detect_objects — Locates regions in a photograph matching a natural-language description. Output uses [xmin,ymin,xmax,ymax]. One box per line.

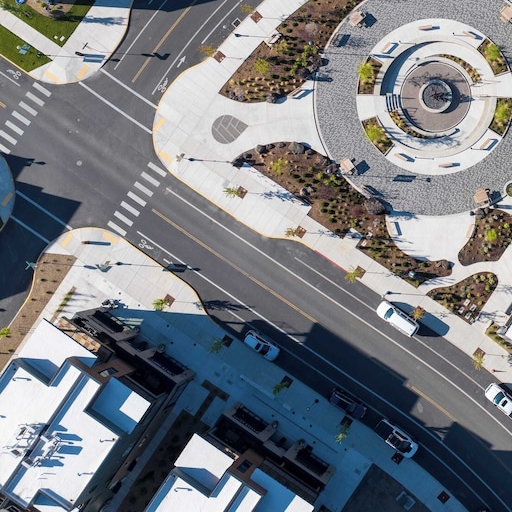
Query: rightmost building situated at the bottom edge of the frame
[141,401,335,512]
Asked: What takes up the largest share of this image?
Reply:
paved ground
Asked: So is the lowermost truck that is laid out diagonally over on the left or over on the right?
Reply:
right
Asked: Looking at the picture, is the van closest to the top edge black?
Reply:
No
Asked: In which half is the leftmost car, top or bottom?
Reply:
bottom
